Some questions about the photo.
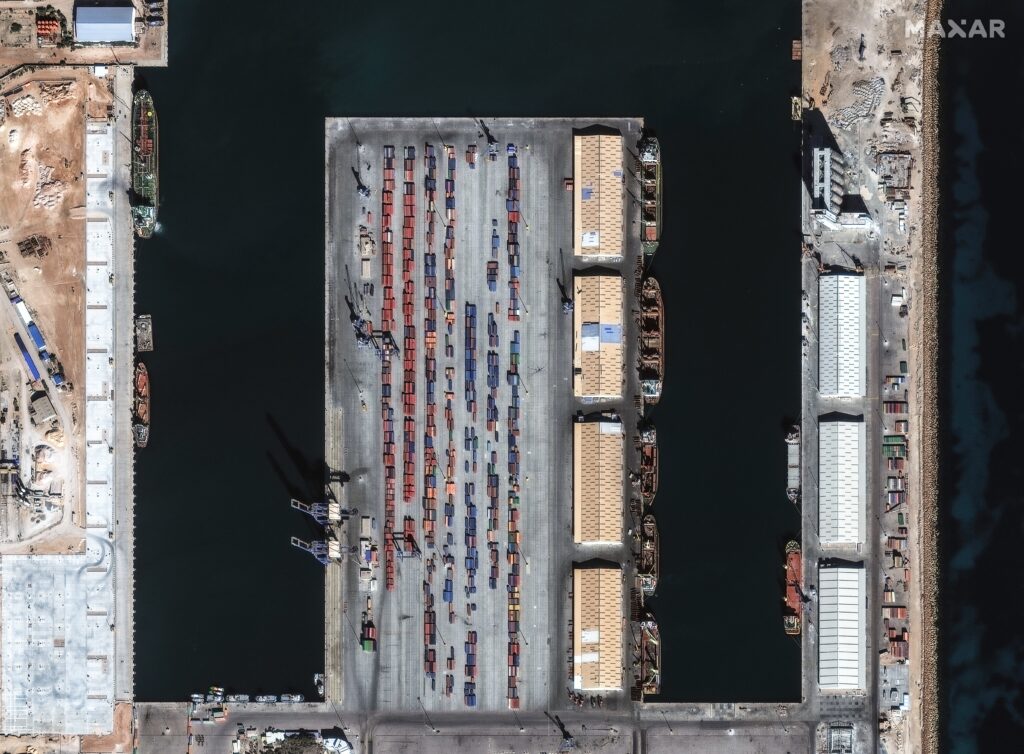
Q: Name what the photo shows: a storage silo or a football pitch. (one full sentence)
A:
The one in the frame is a storage silo.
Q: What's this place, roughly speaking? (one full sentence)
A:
This image shows a port.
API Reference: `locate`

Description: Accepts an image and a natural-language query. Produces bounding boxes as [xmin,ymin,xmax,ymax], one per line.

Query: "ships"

[792,40,802,60]
[792,97,801,120]
[639,137,663,273]
[784,540,802,636]
[785,424,801,503]
[639,277,665,405]
[136,315,153,352]
[642,424,660,504]
[641,612,662,695]
[638,514,660,597]
[135,362,151,448]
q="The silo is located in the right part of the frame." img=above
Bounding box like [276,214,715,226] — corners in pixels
[810,148,873,228]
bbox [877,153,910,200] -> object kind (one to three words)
building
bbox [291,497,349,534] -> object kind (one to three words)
container crane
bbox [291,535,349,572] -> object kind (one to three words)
container crane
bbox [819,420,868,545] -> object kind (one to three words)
building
